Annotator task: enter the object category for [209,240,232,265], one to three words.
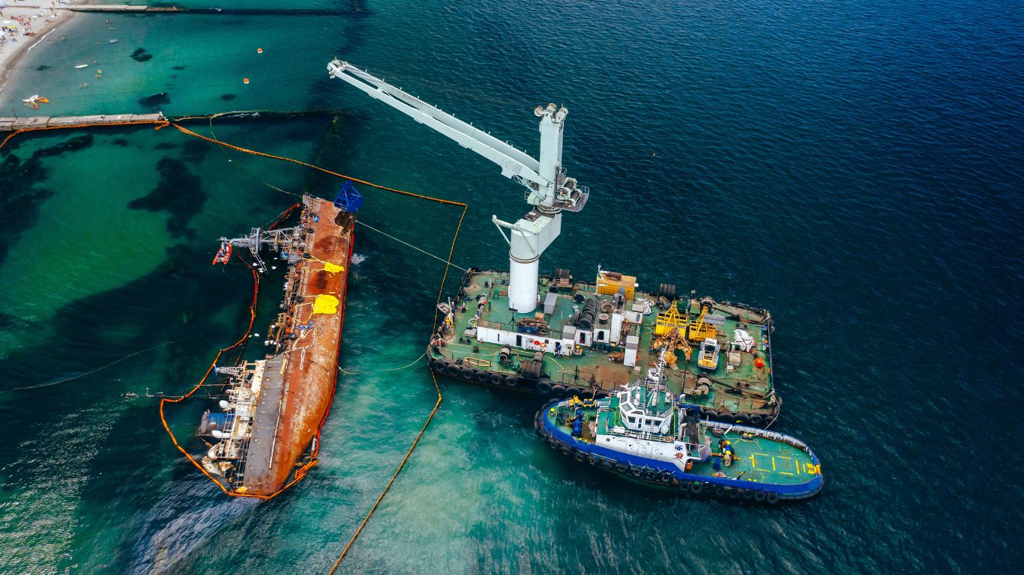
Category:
boat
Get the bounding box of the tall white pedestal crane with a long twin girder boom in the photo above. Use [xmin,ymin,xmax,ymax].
[325,58,592,312]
